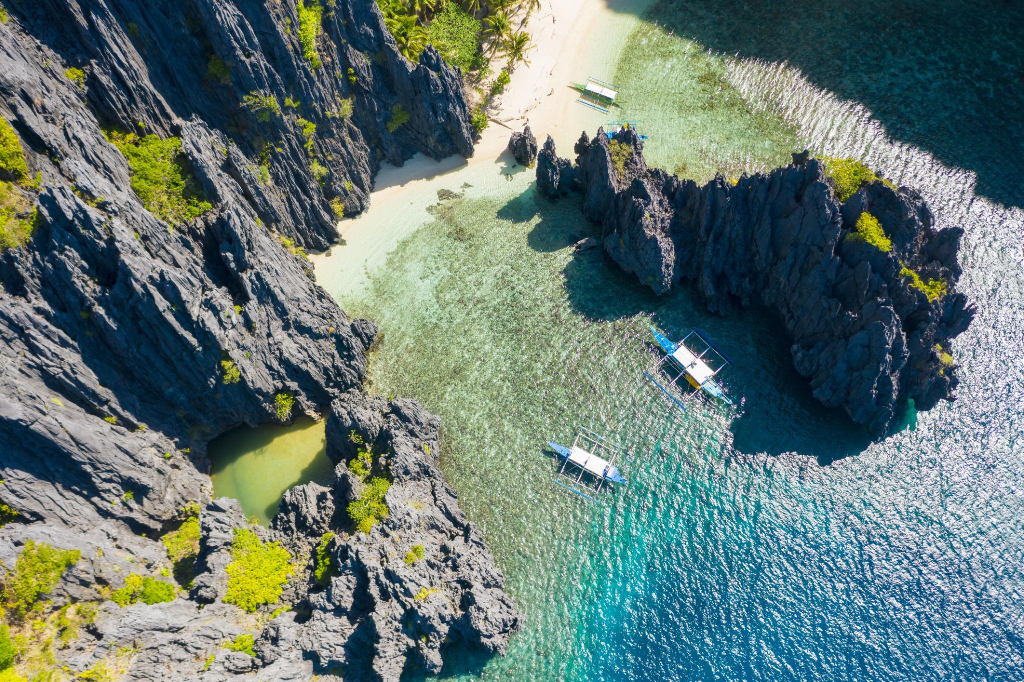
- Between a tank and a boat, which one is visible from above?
boat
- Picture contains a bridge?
No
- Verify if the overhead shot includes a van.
No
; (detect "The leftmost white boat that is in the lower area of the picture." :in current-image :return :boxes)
[548,431,628,498]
